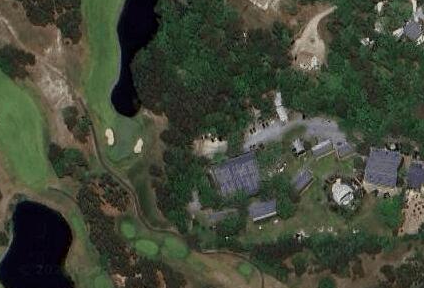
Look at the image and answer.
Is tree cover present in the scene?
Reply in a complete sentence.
Yes, some tree cover is visible.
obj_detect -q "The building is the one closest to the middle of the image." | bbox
[209,148,263,197]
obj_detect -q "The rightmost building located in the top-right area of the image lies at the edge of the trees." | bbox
[393,0,424,44]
